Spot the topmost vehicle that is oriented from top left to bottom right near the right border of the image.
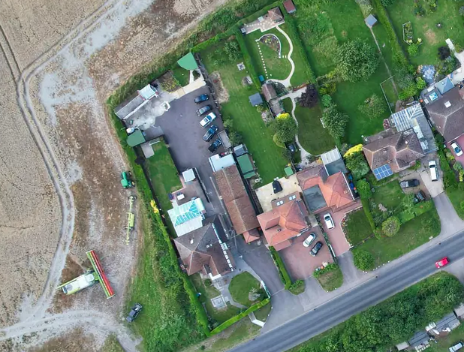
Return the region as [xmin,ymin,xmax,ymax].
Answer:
[450,140,464,157]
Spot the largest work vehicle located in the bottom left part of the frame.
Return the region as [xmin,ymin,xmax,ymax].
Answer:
[53,244,120,296]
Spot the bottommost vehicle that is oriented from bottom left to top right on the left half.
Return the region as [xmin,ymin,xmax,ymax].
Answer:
[122,303,143,324]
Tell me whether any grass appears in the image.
Yes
